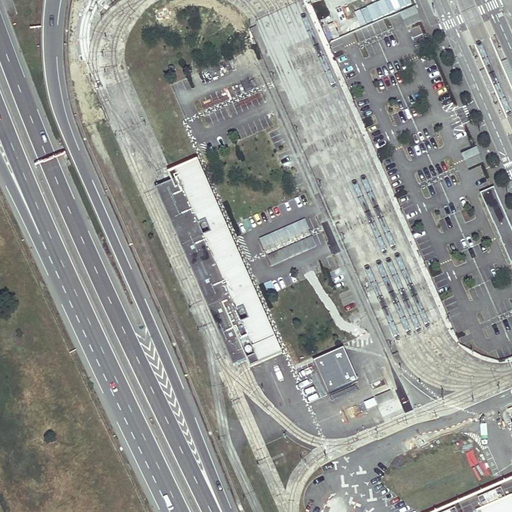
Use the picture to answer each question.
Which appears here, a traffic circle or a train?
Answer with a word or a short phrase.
train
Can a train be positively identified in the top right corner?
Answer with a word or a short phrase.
Yes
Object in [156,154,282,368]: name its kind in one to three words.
building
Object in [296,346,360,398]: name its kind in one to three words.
building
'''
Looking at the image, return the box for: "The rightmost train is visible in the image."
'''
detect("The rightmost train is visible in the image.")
[477,42,511,114]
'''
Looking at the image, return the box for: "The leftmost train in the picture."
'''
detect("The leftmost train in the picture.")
[302,14,335,86]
